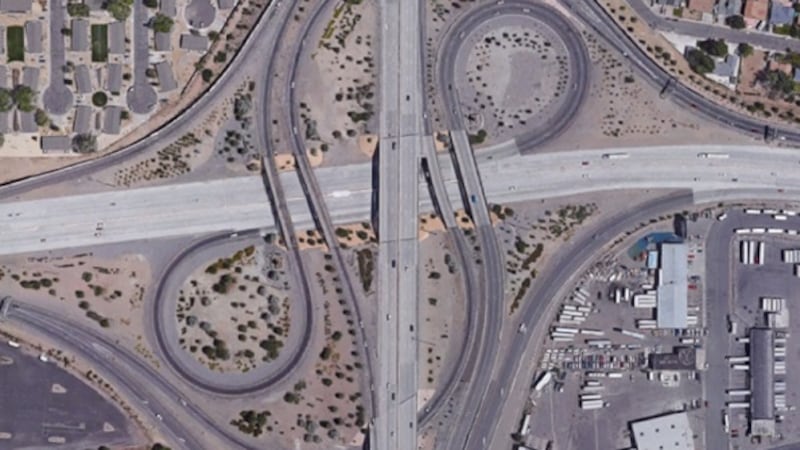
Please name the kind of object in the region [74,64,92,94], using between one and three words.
house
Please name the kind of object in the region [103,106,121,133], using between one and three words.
house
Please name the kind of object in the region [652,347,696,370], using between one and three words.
building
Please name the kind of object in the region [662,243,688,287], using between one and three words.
building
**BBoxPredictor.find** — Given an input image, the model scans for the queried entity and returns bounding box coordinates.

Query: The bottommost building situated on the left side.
[41,137,70,150]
